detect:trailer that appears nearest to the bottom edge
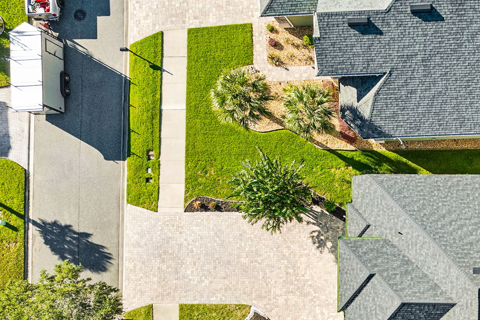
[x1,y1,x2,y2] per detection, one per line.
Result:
[2,21,72,121]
